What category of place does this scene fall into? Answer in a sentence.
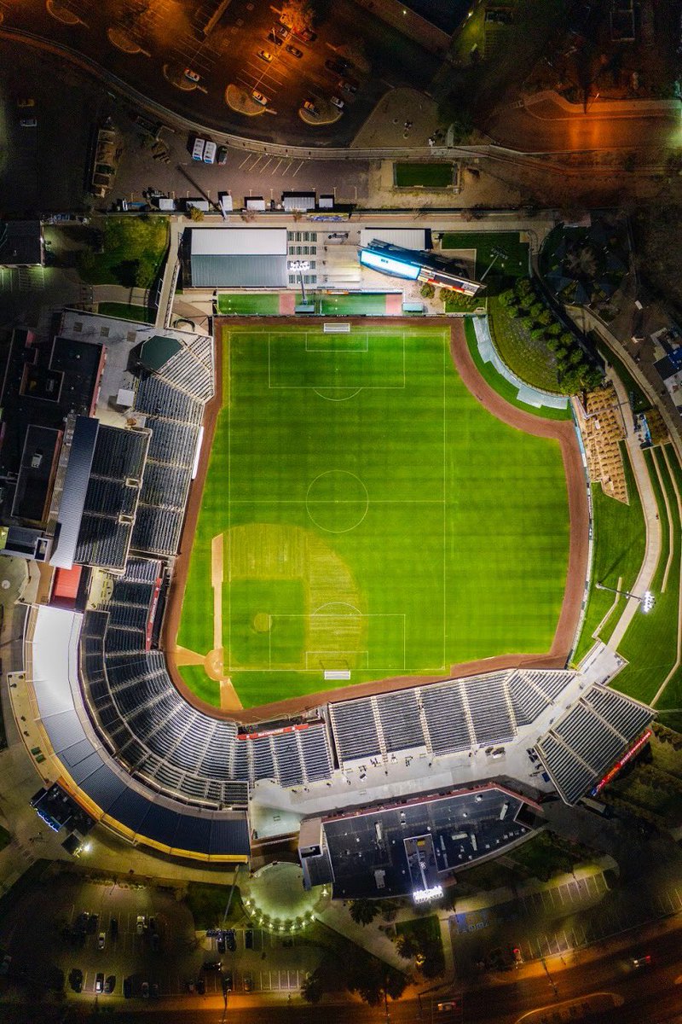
The picture captures a sports ground.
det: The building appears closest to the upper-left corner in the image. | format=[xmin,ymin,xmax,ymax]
[0,219,49,273]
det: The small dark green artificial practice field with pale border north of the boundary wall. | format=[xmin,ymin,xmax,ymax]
[385,161,460,191]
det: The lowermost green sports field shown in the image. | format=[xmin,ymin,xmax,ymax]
[163,317,589,723]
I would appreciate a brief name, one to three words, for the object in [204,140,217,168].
vehicle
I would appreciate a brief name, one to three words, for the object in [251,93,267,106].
vehicle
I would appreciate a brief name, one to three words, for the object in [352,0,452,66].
building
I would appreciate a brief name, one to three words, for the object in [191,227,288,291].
building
